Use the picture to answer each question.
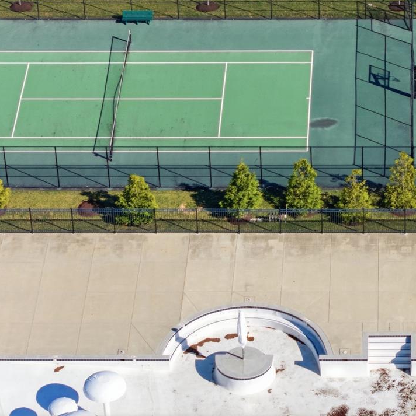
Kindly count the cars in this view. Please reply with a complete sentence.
The count of cars is 0.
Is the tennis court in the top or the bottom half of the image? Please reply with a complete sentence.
It is in the top half that the tennis court appears.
